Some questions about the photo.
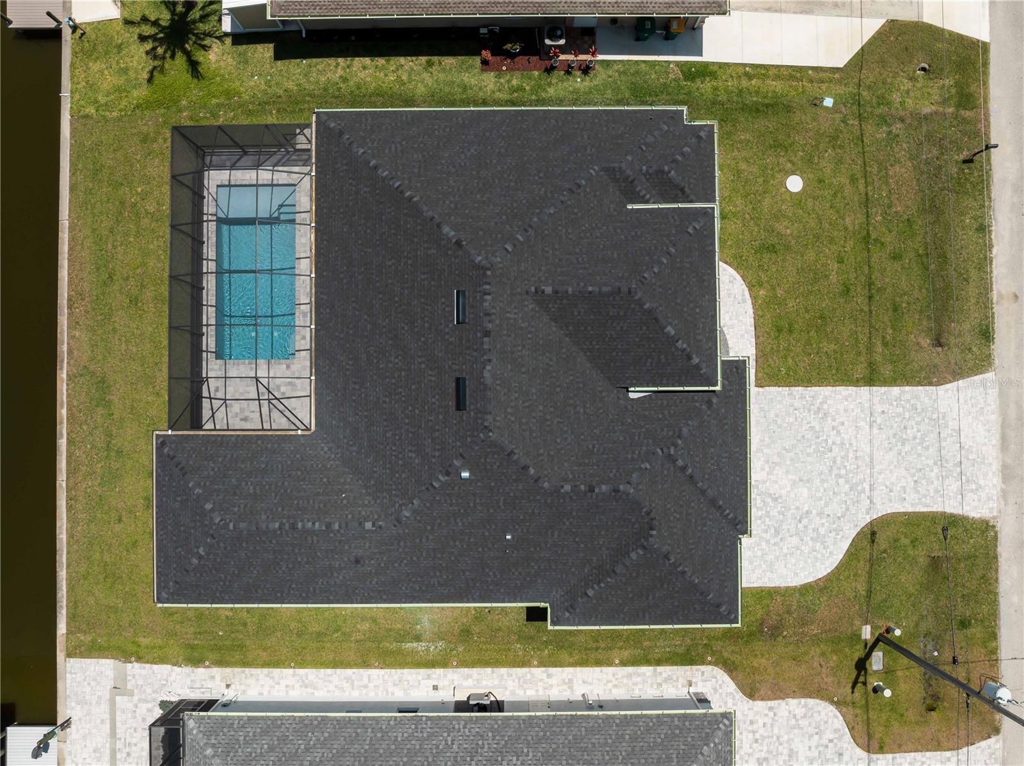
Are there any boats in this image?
No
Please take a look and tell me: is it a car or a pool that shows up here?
pool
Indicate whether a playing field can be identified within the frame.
No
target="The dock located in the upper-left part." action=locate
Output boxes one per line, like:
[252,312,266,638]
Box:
[7,0,61,31]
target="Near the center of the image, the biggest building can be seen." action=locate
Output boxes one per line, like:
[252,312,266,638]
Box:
[151,106,752,630]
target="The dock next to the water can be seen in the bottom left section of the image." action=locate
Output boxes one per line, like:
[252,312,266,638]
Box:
[6,724,58,766]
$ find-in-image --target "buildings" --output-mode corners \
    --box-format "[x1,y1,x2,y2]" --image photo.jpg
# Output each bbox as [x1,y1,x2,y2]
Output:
[183,694,738,766]
[268,0,731,35]
[151,106,752,630]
